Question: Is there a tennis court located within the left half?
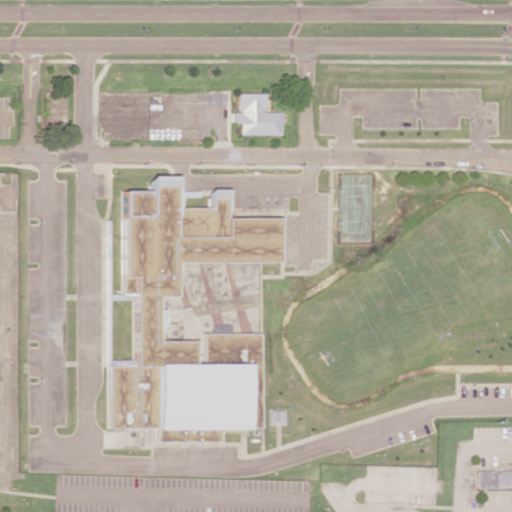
No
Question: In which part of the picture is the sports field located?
right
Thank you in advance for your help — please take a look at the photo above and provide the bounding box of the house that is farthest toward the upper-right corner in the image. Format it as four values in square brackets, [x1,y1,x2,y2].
[235,94,286,137]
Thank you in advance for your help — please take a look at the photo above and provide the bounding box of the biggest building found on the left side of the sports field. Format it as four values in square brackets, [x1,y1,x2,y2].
[107,176,286,442]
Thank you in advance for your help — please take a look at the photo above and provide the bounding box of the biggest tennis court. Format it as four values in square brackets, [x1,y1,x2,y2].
[340,174,372,242]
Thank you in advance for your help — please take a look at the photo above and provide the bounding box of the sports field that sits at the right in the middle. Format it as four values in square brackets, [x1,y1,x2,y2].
[288,192,512,402]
